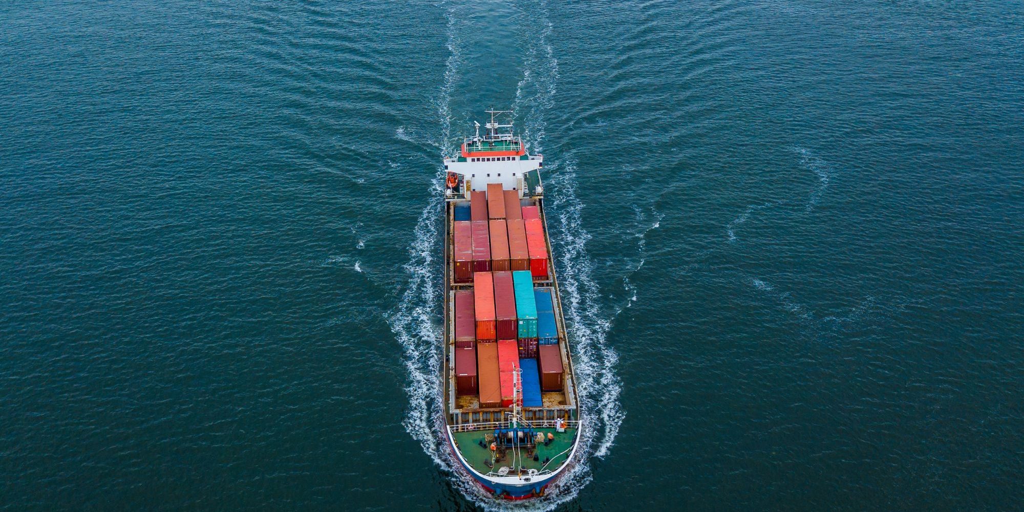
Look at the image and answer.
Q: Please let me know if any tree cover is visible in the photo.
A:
No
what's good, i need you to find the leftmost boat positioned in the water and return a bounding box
[445,172,460,188]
